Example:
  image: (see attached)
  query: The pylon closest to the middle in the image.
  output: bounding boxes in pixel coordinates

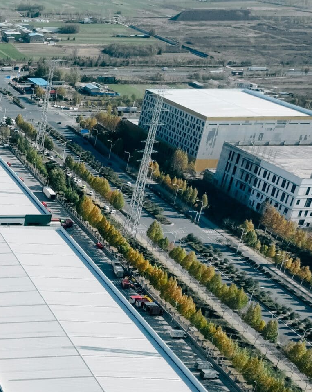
[119,88,168,237]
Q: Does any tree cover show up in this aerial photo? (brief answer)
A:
Yes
